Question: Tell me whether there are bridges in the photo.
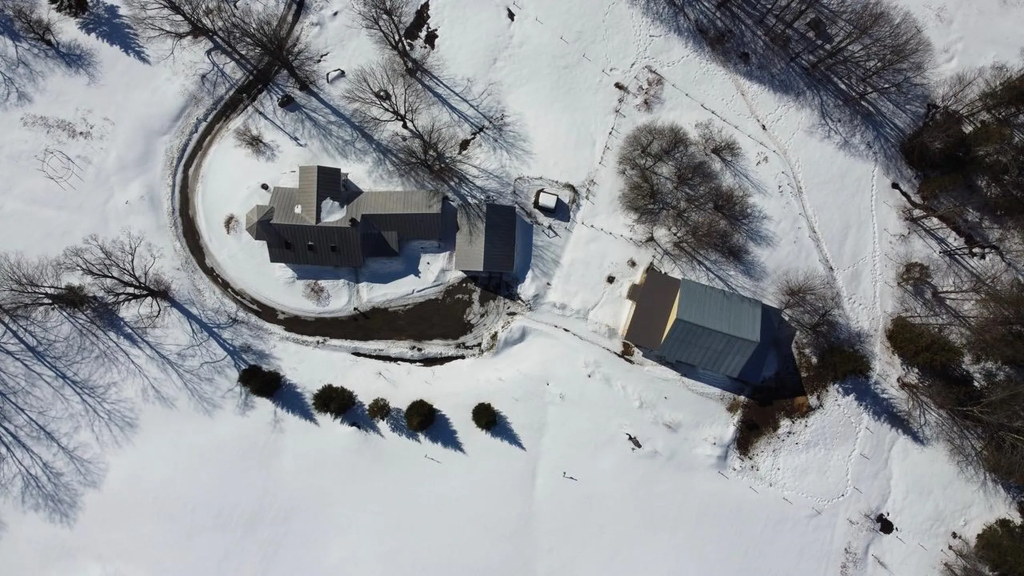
No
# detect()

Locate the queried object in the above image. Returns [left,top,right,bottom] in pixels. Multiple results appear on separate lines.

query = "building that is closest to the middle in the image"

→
[454,202,516,272]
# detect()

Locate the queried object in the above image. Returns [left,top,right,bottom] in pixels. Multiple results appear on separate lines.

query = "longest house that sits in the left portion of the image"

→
[246,164,443,267]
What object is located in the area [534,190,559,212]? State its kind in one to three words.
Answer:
shed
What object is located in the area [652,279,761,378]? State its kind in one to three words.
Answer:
barn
